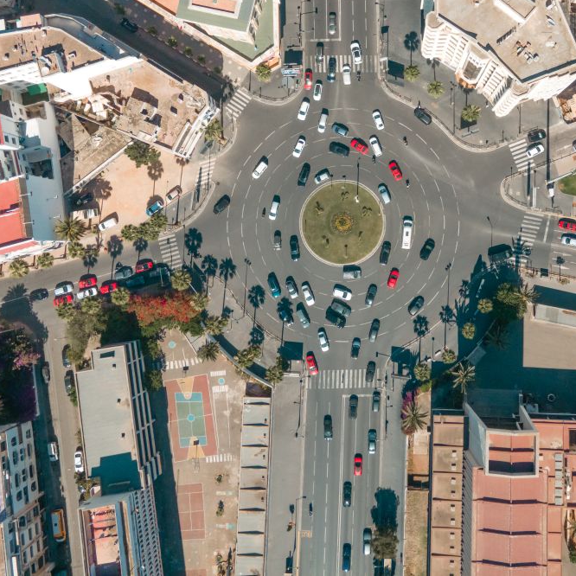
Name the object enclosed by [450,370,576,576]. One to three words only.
building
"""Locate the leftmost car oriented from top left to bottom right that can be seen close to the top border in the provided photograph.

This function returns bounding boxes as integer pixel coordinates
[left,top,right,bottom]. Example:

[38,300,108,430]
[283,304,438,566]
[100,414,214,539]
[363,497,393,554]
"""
[120,17,139,32]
